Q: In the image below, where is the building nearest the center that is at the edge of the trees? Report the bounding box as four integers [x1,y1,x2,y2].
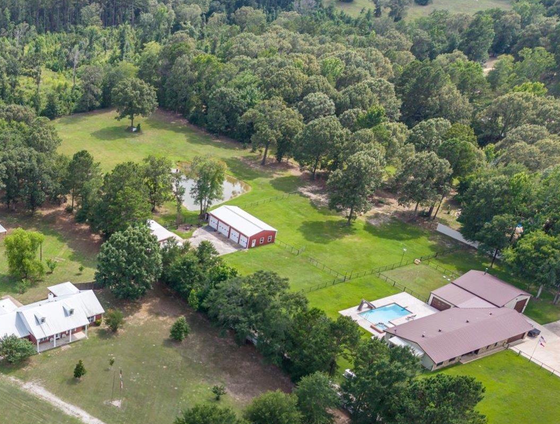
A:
[209,205,277,248]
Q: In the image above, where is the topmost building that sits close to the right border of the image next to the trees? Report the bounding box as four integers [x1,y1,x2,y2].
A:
[428,267,535,315]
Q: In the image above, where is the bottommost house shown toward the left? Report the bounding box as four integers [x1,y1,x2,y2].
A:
[0,282,106,353]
